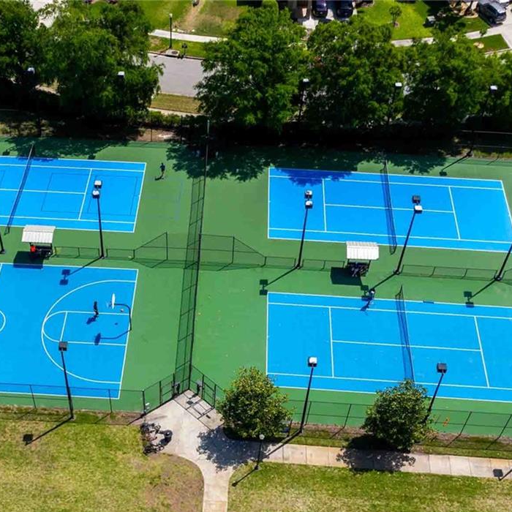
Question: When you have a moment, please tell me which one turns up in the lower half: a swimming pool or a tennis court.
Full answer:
Looking in the lower half, you will find a tennis court.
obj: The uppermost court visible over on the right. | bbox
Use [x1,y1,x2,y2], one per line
[201,145,512,280]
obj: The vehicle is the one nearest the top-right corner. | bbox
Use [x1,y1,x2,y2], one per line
[478,0,512,25]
